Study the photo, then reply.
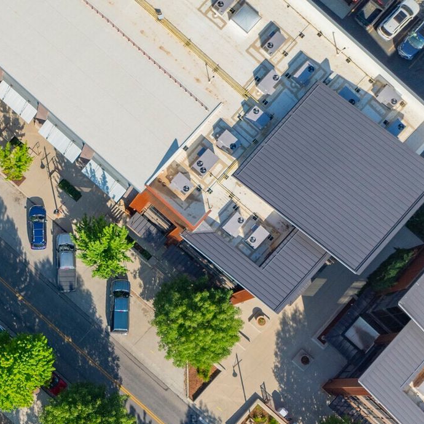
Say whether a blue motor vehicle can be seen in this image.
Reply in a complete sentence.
Yes, there's a blue motor vehicle here.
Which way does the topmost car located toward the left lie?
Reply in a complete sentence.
In this picture, the topmost car located toward the left is oriented vertically.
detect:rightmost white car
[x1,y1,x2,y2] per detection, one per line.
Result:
[379,0,422,40]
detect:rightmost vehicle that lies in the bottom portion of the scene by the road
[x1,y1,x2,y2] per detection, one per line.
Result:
[112,280,134,334]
